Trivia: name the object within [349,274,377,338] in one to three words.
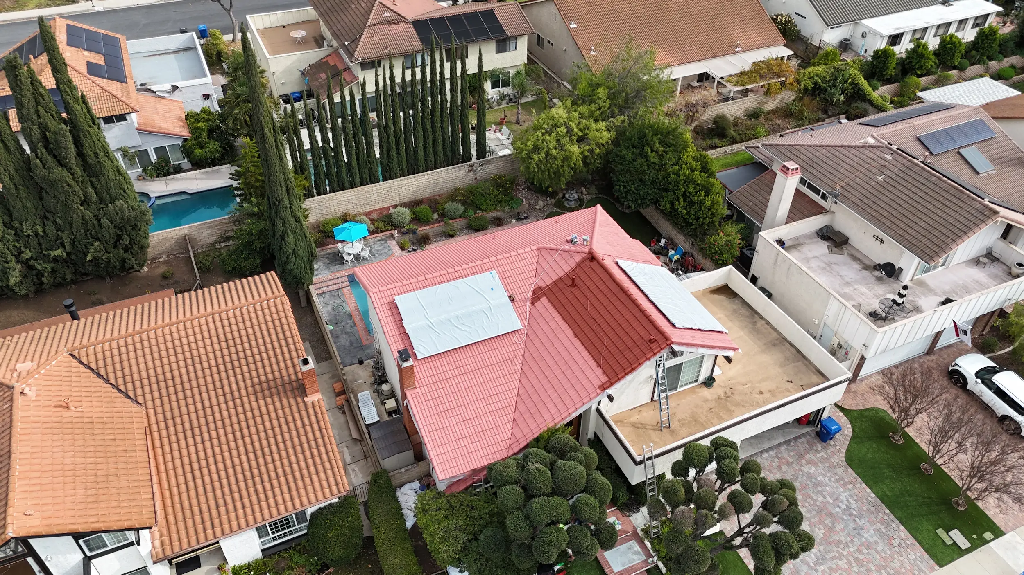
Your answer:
swimming pool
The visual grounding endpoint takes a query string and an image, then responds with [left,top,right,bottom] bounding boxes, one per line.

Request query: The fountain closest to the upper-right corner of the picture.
[559,191,582,211]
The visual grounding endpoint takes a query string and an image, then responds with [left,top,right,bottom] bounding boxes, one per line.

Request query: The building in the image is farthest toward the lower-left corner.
[0,269,349,575]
